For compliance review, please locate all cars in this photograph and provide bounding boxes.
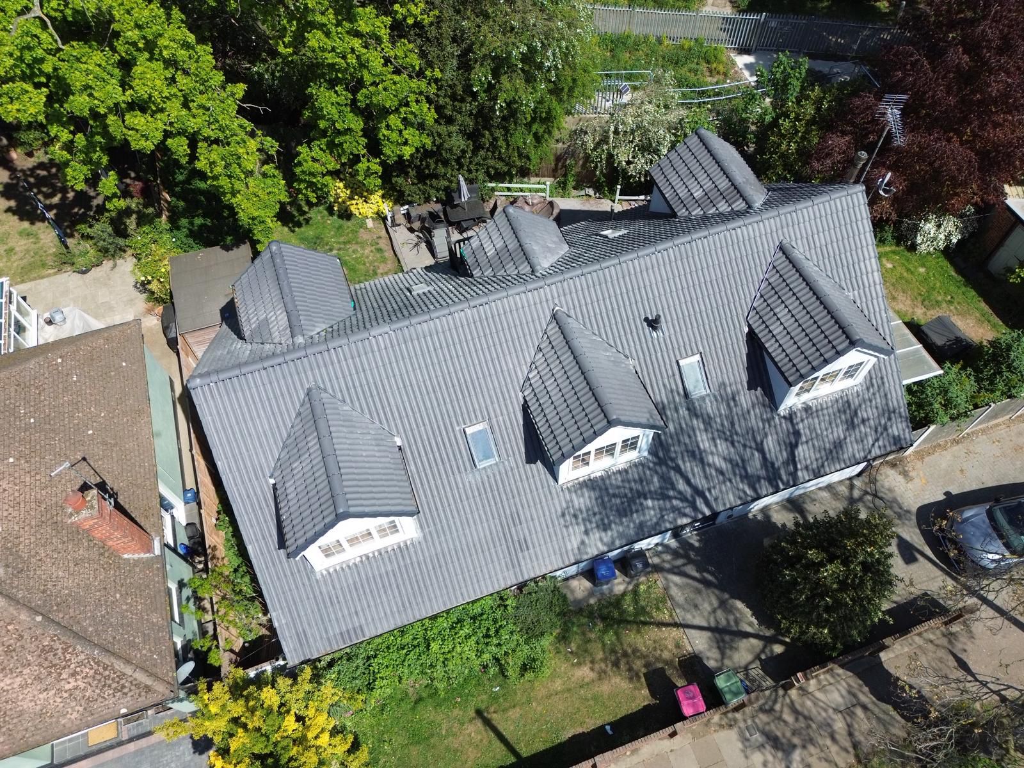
[934,487,1024,579]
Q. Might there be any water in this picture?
No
